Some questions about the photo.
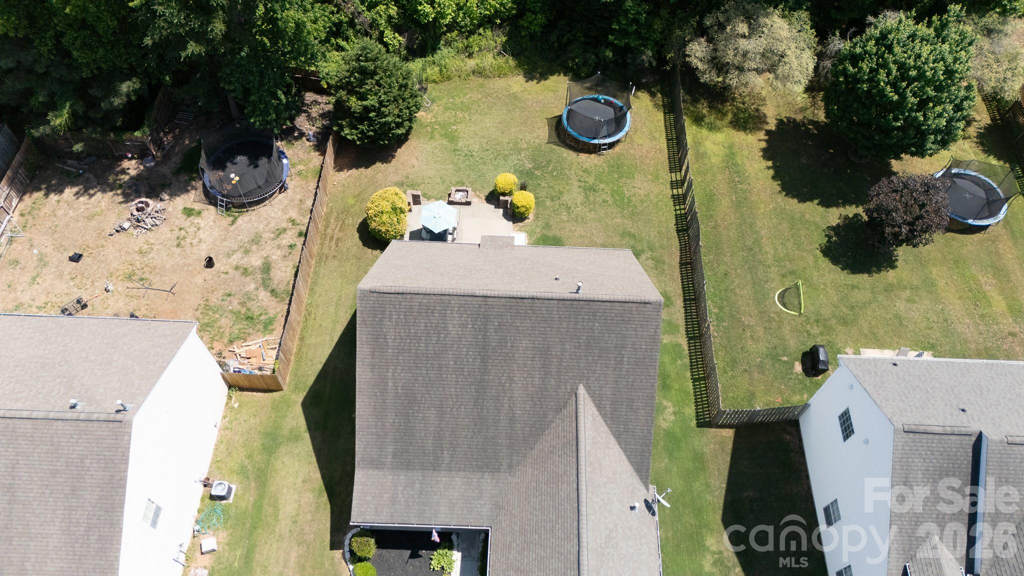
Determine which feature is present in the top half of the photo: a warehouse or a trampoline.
trampoline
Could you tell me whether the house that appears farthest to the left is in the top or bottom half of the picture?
bottom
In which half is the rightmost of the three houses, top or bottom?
bottom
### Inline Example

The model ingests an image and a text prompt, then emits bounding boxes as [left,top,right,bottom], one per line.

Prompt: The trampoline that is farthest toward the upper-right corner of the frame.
[927,151,1024,239]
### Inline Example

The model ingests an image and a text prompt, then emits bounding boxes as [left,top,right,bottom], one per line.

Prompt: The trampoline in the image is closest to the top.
[559,71,634,161]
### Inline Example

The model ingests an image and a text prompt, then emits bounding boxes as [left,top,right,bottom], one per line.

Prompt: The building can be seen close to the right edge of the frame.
[798,355,1024,576]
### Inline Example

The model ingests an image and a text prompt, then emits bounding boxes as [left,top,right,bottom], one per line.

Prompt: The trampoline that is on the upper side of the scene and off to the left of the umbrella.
[199,123,292,214]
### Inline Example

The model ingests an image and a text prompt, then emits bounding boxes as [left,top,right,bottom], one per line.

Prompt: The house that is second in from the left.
[347,233,666,576]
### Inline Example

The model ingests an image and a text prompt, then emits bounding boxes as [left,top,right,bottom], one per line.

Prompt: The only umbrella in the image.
[420,201,457,234]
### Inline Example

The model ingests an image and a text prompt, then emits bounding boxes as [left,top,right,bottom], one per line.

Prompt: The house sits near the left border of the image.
[0,314,227,576]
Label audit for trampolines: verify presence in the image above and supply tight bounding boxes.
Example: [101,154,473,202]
[559,71,634,161]
[927,151,1024,239]
[199,123,292,214]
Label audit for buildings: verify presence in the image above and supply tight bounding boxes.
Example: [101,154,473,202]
[798,355,1024,576]
[347,233,666,576]
[0,314,227,576]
